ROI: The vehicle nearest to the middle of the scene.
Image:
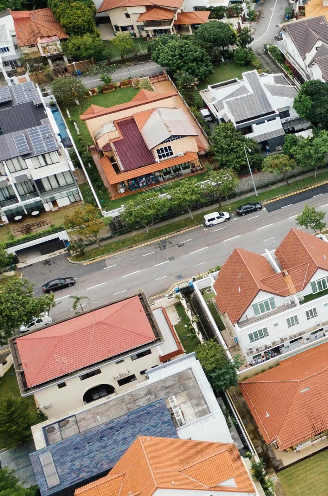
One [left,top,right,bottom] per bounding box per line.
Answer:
[200,205,234,225]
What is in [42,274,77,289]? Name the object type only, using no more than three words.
car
